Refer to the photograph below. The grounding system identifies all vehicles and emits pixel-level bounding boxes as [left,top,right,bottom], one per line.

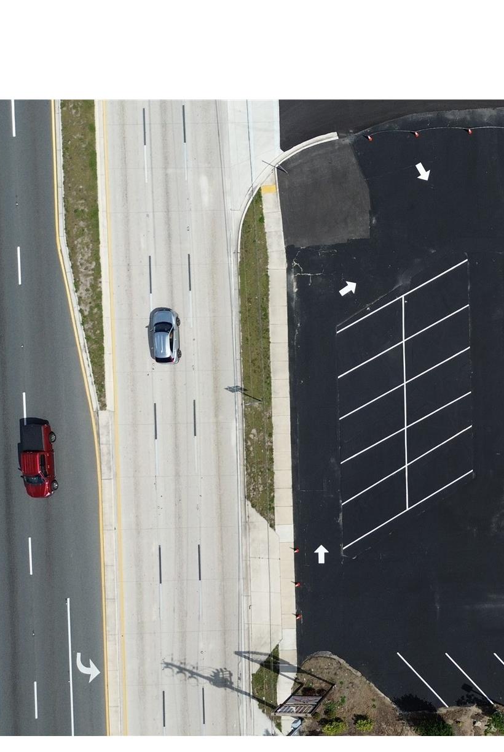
[21,424,60,498]
[147,308,182,365]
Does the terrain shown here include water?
No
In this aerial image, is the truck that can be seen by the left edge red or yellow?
red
